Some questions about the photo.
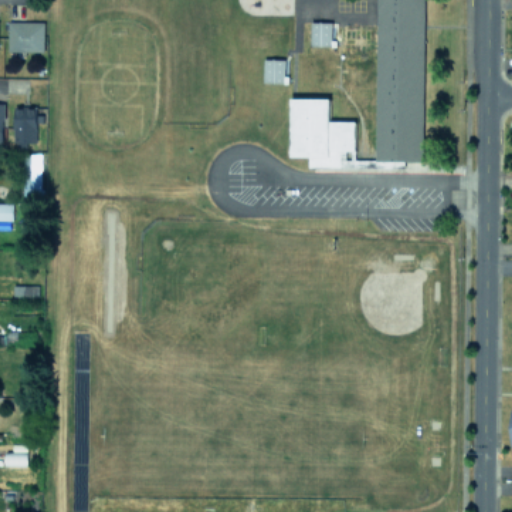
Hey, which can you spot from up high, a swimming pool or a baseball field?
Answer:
baseball field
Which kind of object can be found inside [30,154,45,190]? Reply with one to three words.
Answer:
shed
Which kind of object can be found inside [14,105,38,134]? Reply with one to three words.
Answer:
house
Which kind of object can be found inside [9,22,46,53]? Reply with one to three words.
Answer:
house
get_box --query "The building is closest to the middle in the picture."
[290,100,358,169]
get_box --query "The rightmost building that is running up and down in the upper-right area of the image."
[378,0,426,162]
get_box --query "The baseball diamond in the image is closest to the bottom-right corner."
[360,270,427,336]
